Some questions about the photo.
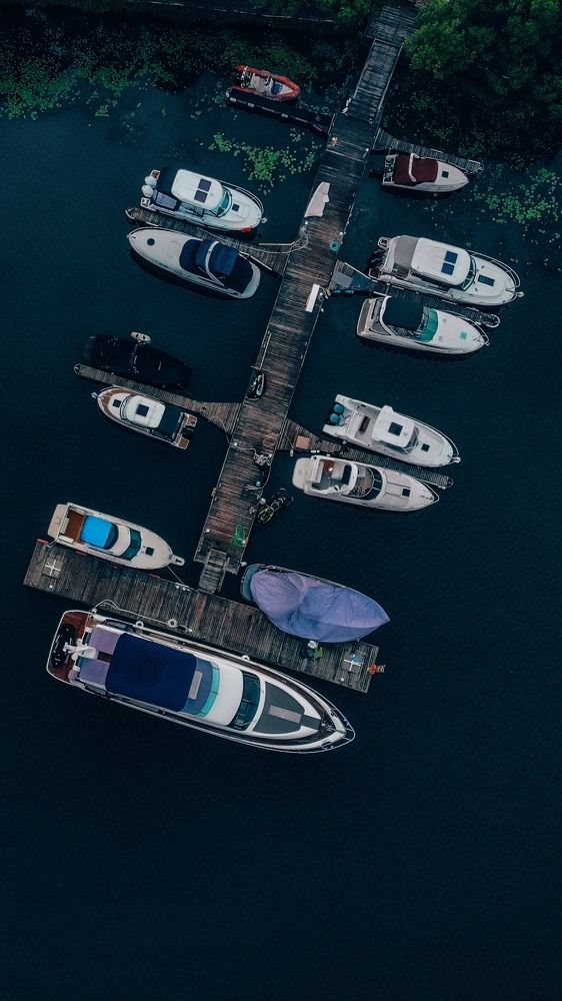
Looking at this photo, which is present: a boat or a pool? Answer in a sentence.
Of the two, only a boat appears.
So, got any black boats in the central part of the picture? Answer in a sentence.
Yes, a black boat appears in the central part of the picture.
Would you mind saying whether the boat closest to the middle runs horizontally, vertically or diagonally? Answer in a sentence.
The boat closest to the middle is oriented diagonally.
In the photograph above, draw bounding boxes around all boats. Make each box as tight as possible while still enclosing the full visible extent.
[94,390,196,449]
[291,452,441,507]
[227,59,299,102]
[325,397,456,466]
[49,502,181,566]
[125,227,264,307]
[241,561,390,643]
[257,492,289,524]
[372,237,521,310]
[48,608,358,750]
[142,167,269,233]
[353,298,489,357]
[378,150,471,195]
[79,331,194,390]
[244,370,266,401]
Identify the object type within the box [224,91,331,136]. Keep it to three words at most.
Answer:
pier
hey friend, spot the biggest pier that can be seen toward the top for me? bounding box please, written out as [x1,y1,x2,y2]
[194,112,376,575]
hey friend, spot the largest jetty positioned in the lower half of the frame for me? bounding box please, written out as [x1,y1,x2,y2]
[23,541,379,693]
